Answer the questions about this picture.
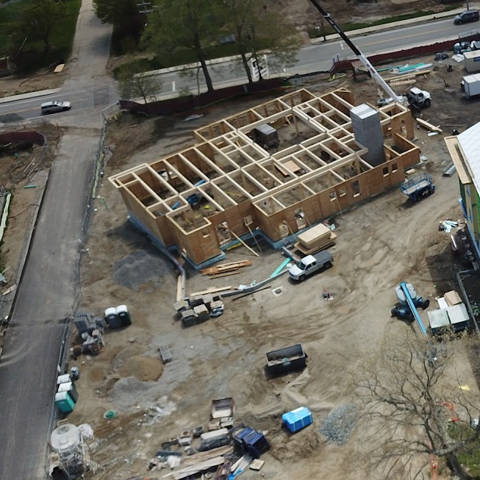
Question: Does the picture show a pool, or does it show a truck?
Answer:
truck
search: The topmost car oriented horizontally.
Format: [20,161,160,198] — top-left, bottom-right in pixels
[452,9,480,24]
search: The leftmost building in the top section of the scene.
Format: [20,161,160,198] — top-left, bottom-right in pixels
[107,87,421,268]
